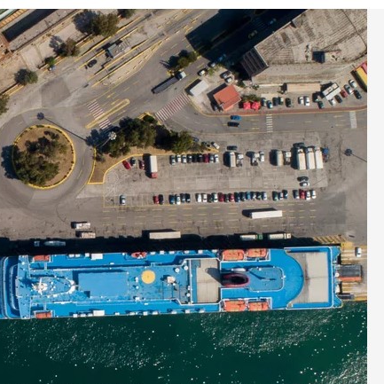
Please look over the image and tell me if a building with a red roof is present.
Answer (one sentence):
Yes, the image includes a building with a red roof.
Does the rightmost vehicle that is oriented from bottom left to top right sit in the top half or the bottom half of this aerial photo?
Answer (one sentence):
You can find the rightmost vehicle that is oriented from bottom left to top right in the top half.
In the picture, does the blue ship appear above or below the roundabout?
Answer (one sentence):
From this view, the blue ship can be seen below the roundabout.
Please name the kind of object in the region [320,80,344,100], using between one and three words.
vehicle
